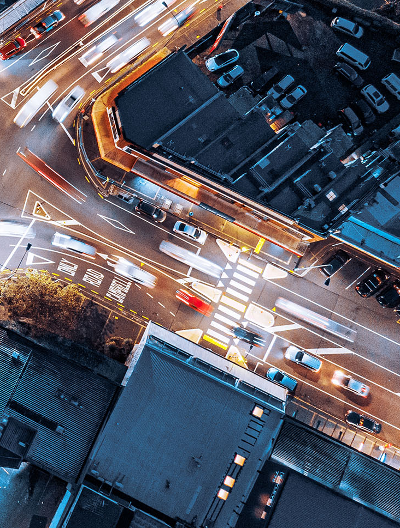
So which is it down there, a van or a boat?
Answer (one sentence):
Looking from above, you can make out a van.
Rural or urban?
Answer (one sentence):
This place is urban.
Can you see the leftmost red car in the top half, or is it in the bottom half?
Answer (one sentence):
The leftmost red car is in the top half of the image.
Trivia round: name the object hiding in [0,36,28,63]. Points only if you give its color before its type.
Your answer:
red car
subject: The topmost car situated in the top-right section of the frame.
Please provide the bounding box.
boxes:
[331,17,362,40]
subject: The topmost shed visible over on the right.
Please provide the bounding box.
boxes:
[209,0,304,56]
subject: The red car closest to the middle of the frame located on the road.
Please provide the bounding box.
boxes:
[178,291,209,313]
